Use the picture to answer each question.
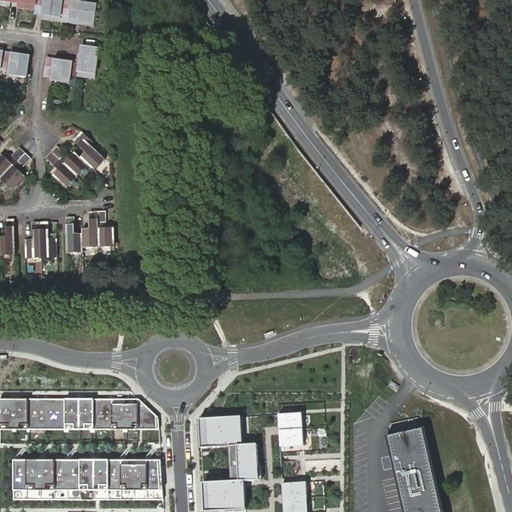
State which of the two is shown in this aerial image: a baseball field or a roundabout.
roundabout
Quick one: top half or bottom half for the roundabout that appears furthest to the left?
bottom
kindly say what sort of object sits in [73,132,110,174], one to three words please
house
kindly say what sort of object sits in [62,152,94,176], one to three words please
house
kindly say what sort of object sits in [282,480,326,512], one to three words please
building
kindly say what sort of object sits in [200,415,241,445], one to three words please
building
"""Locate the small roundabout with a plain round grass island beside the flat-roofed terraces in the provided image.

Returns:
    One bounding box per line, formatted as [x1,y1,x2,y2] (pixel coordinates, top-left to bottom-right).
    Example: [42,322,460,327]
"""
[139,332,210,403]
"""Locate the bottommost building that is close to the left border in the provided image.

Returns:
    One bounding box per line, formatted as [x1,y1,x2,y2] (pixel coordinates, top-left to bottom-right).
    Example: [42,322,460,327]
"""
[12,458,162,500]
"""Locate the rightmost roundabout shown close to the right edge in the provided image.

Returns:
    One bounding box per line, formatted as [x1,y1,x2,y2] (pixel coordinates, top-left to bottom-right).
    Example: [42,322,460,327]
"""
[384,248,512,404]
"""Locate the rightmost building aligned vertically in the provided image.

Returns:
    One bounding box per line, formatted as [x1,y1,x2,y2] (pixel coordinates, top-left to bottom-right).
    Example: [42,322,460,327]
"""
[386,426,441,512]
